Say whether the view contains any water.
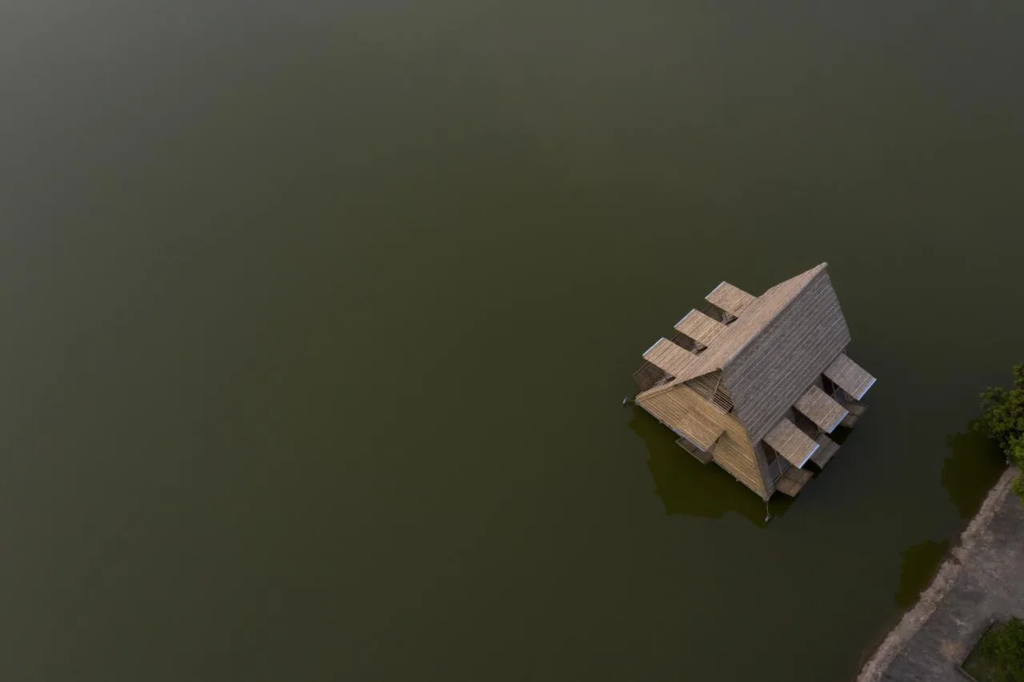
Yes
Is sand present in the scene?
No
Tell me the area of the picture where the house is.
right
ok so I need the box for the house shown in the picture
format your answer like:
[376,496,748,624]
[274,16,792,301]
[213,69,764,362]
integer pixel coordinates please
[633,263,878,500]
